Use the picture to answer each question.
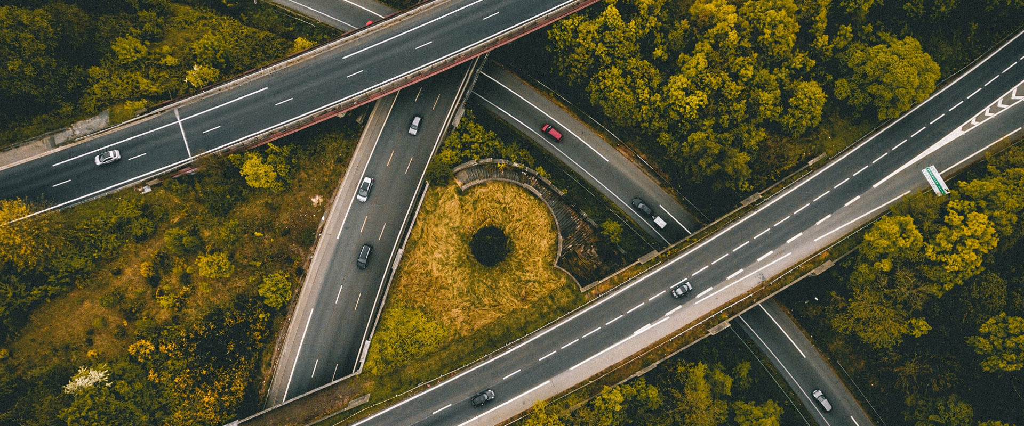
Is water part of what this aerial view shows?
No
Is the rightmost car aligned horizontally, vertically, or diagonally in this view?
diagonally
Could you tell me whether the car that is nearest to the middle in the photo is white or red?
red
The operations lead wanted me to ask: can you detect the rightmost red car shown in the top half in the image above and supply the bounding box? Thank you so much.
[541,123,565,143]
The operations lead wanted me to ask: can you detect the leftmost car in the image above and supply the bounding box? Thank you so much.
[92,148,120,165]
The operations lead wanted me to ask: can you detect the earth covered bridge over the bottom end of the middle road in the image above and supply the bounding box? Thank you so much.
[217,371,378,426]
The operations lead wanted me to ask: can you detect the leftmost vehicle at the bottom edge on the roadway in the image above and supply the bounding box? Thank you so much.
[470,390,495,409]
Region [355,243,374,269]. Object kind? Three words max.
car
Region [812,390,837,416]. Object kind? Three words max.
car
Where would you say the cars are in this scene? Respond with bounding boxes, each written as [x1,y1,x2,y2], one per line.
[470,390,495,409]
[812,390,837,416]
[631,195,656,217]
[670,280,694,299]
[92,148,120,165]
[355,243,374,269]
[354,175,376,202]
[541,123,565,143]
[406,115,422,135]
